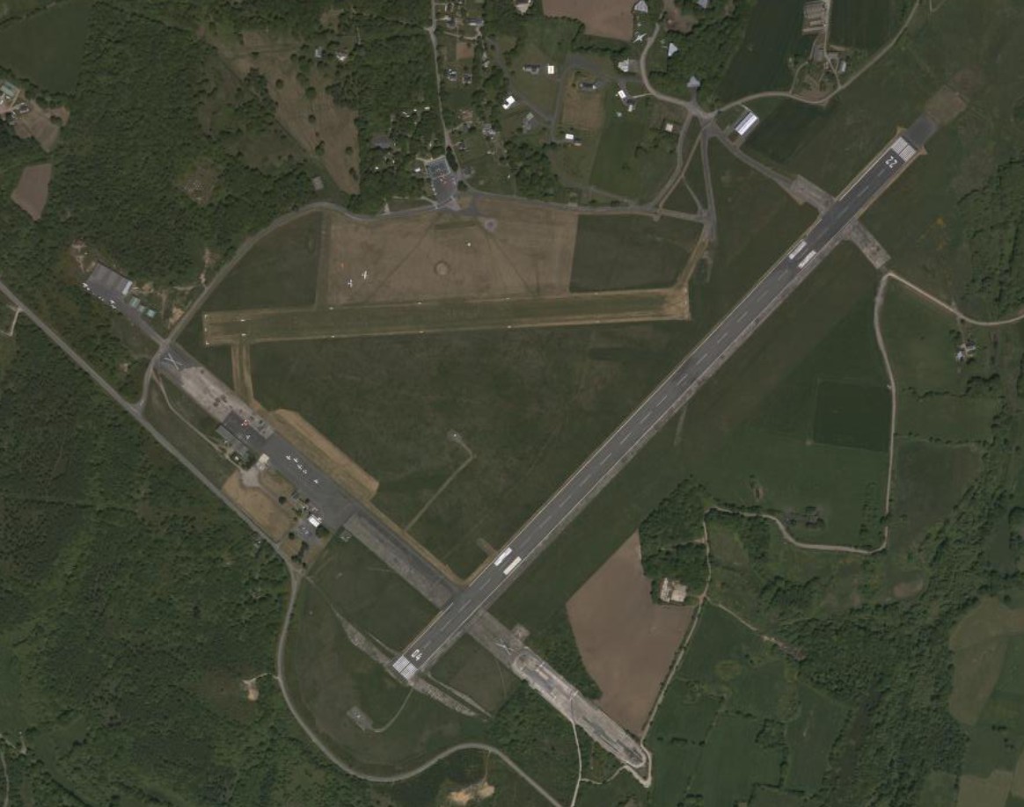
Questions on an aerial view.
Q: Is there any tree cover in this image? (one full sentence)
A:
Yes, tree cover can be seen from above here.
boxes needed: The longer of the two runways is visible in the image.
[391,136,917,681]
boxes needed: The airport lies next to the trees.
[85,79,967,770]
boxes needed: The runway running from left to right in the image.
[203,287,691,345]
